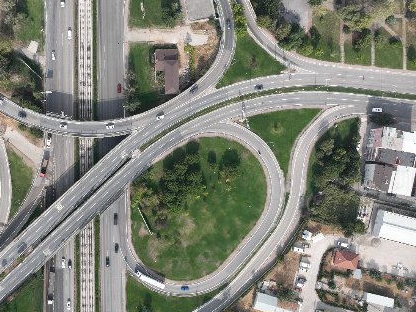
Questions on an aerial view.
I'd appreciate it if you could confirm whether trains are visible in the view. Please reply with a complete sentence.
No, this view has no train in it.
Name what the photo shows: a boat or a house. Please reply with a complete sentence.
This aerial view contains a house.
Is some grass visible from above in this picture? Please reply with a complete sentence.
Yes, there is grass in the image.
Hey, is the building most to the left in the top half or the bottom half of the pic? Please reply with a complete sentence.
The building most to the left sits in the top half of the picture.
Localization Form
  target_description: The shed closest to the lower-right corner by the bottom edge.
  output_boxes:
[362,289,395,308]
